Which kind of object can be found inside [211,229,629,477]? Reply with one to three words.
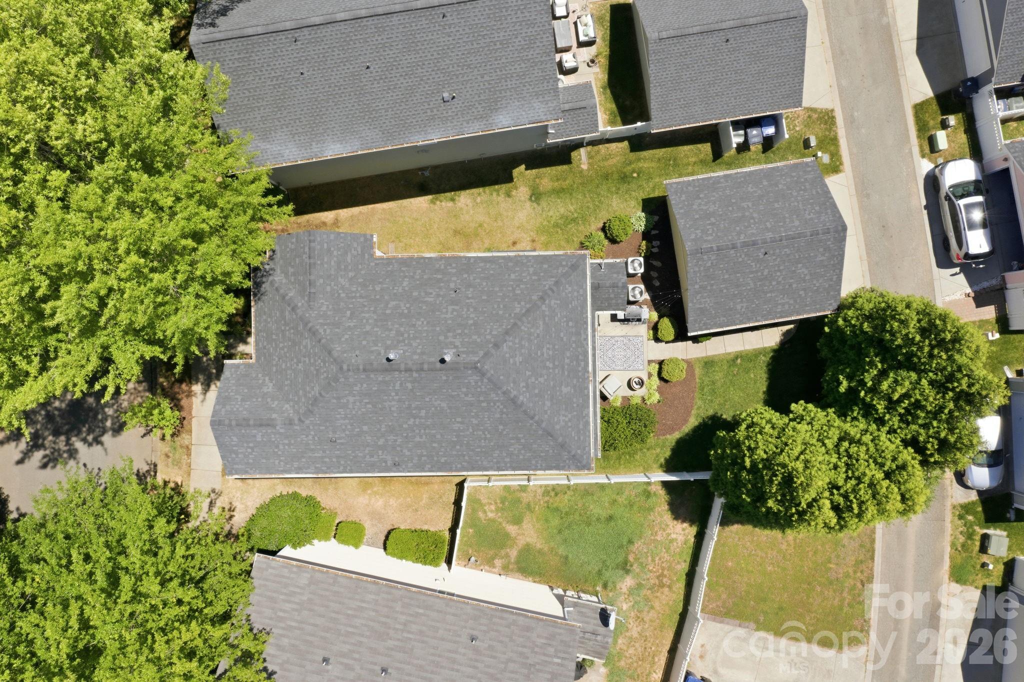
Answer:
house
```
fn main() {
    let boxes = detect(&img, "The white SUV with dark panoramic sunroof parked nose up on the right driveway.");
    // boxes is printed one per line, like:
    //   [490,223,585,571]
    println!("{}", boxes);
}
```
[930,160,997,263]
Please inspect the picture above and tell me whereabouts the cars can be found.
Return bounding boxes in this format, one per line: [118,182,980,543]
[956,406,1009,491]
[930,160,997,263]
